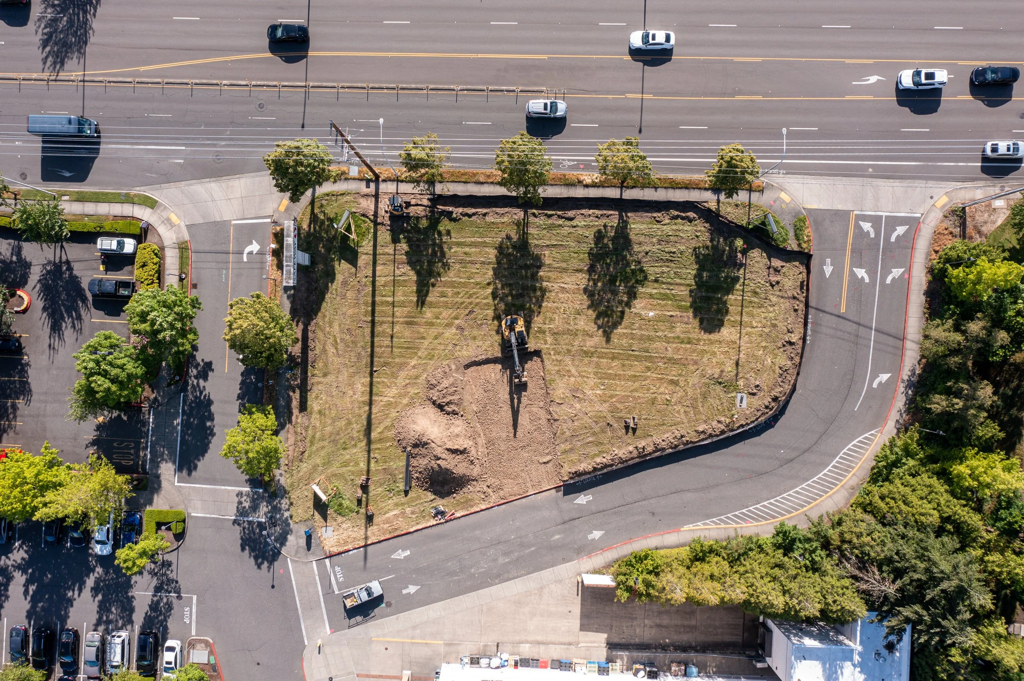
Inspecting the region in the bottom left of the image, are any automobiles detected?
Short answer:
Yes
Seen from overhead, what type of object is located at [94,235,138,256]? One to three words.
car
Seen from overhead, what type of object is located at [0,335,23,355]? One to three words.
car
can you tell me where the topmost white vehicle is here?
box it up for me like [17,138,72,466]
[629,28,675,50]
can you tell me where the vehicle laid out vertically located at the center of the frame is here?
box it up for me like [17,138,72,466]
[501,313,527,380]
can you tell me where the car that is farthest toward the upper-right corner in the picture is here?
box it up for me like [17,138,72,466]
[972,64,1019,87]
